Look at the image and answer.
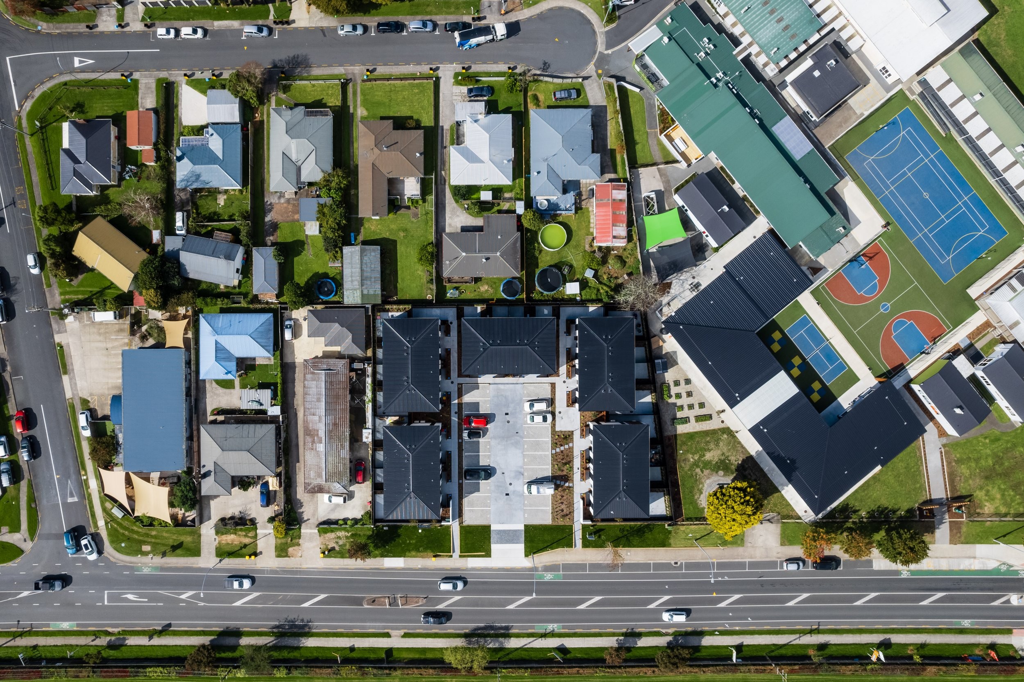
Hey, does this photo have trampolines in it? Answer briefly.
Yes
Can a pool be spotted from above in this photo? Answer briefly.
Yes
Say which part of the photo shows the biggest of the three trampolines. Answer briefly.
center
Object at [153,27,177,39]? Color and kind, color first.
white vehicle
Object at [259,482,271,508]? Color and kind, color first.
blue vehicle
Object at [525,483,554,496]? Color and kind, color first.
white vehicle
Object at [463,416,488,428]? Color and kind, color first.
red vehicle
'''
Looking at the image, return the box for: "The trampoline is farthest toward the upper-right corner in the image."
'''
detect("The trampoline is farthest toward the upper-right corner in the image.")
[535,266,563,293]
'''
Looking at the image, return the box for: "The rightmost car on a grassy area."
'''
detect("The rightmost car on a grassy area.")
[552,87,577,102]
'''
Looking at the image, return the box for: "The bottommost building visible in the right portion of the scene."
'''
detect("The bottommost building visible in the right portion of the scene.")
[590,421,650,519]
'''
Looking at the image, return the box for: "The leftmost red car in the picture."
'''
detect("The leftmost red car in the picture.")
[15,410,31,433]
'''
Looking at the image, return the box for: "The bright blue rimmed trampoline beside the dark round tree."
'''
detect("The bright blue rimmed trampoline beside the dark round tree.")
[314,278,336,299]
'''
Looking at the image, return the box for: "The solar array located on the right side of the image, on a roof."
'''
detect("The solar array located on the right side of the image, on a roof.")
[772,116,813,160]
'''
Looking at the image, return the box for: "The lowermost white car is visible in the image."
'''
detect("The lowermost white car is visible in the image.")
[662,609,687,623]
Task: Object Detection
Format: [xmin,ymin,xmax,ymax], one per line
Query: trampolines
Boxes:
[500,278,521,299]
[314,278,336,299]
[535,266,563,293]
